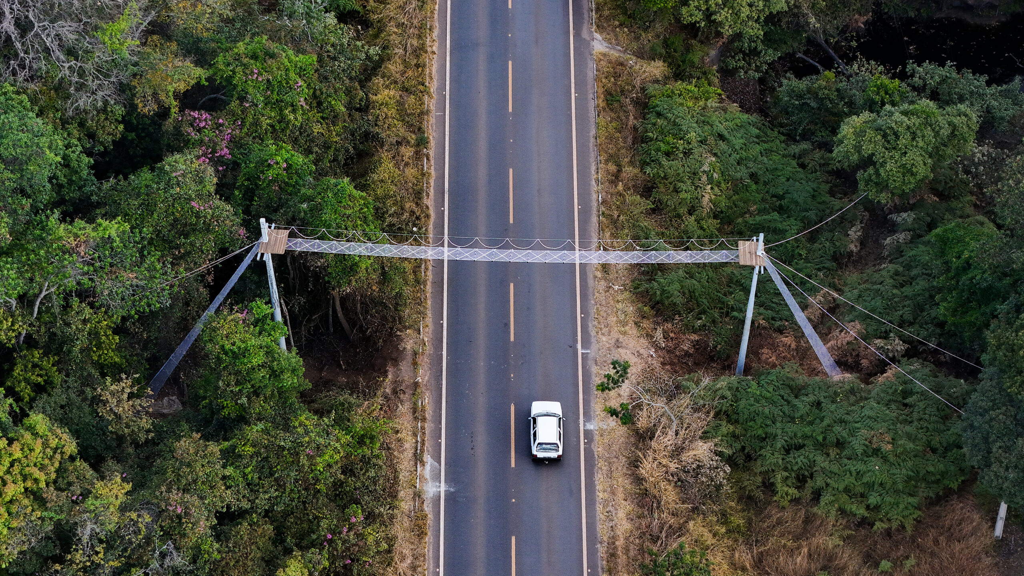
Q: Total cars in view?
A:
1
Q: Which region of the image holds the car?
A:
bottom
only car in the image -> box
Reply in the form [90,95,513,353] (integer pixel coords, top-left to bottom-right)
[528,401,566,462]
